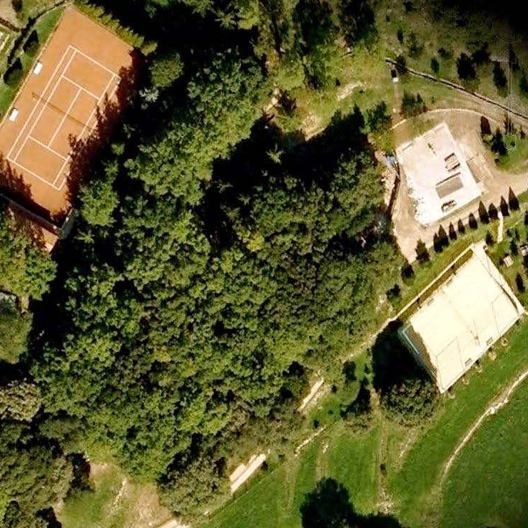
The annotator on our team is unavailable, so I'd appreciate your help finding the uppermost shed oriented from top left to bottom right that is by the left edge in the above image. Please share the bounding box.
[0,201,59,251]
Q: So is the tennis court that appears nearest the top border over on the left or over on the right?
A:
left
